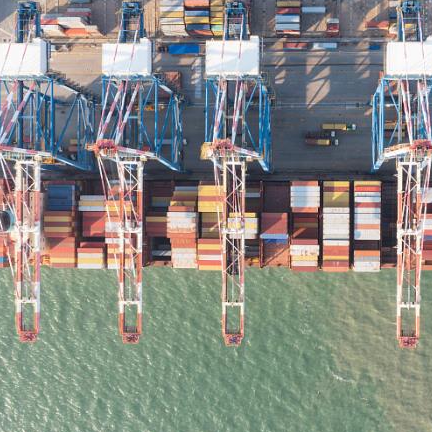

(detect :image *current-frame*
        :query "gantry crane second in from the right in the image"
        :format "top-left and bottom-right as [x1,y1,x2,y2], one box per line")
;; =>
[204,1,273,345]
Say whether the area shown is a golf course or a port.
port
